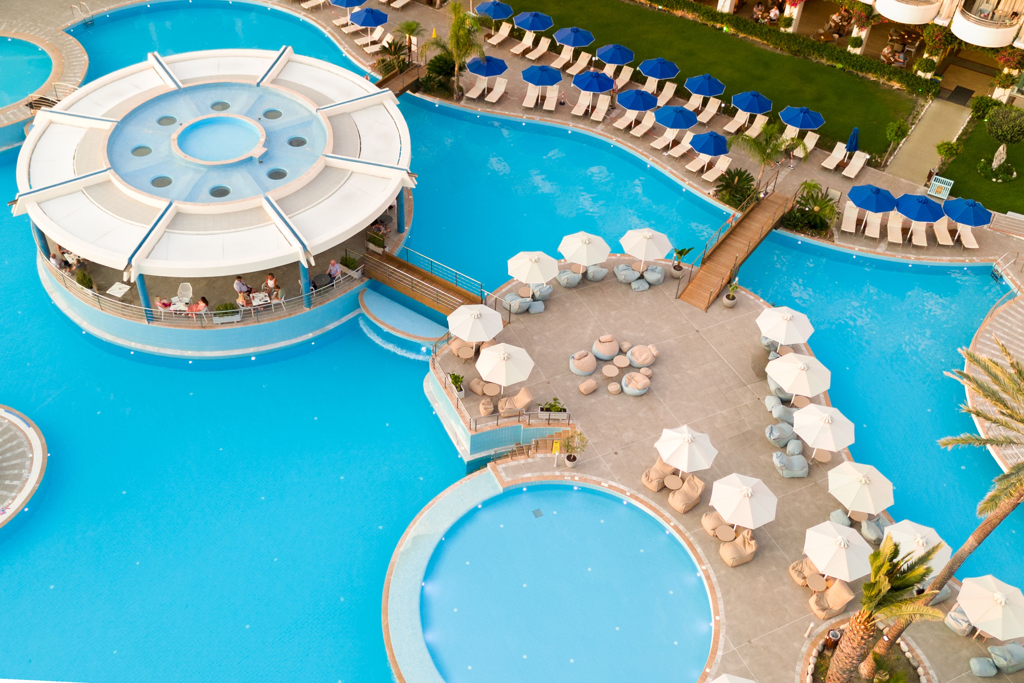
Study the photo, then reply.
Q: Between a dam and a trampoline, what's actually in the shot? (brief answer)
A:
dam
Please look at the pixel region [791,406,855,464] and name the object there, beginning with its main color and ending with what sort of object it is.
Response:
white umbrella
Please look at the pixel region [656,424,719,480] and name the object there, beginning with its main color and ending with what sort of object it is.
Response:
white umbrella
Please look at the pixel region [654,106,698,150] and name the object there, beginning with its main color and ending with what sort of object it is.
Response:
blue umbrella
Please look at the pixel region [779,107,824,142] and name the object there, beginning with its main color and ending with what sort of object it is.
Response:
blue umbrella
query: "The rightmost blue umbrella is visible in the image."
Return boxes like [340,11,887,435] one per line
[942,198,991,245]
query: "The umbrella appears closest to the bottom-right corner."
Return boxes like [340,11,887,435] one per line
[958,576,1024,644]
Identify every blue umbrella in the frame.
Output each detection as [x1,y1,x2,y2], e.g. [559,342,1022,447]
[555,27,595,68]
[841,128,858,171]
[689,131,734,175]
[640,57,682,98]
[467,58,508,79]
[896,195,943,242]
[522,66,564,109]
[848,185,897,232]
[734,92,773,131]
[684,75,726,116]
[779,107,824,142]
[350,7,390,34]
[942,198,991,245]
[615,89,658,132]
[476,0,515,24]
[654,106,698,150]
[596,45,636,81]
[574,73,615,115]
[330,0,365,25]
[514,12,553,52]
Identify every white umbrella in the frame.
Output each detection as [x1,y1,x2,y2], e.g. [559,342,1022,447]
[824,464,890,524]
[802,522,873,584]
[477,344,535,397]
[711,475,779,534]
[559,234,611,285]
[769,355,828,408]
[656,424,719,480]
[449,304,506,360]
[791,406,855,464]
[621,229,672,279]
[958,576,1024,644]
[509,251,561,303]
[758,308,810,355]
